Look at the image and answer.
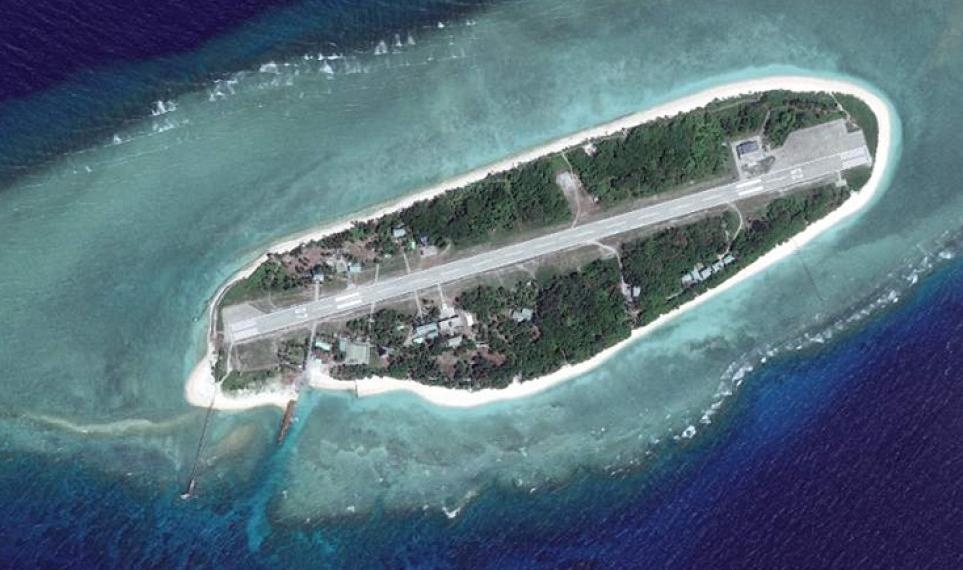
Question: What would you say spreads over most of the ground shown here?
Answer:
water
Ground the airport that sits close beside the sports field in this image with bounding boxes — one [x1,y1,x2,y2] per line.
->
[223,119,872,345]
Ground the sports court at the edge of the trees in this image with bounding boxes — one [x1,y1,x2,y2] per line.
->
[346,343,370,364]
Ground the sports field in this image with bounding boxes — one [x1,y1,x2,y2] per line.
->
[241,337,277,369]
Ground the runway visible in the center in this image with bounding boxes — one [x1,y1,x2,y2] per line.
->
[229,146,869,340]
